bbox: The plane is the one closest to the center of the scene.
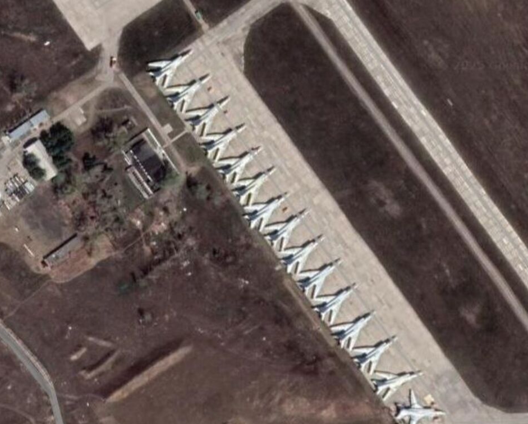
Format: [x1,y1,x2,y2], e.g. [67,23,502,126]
[243,193,287,230]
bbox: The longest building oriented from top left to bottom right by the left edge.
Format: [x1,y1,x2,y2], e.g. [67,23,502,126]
[26,140,59,181]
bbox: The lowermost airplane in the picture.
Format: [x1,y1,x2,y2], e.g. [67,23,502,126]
[396,392,443,424]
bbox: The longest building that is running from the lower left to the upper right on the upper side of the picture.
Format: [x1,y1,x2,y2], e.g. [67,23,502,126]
[9,110,49,138]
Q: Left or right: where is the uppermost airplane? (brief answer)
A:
left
